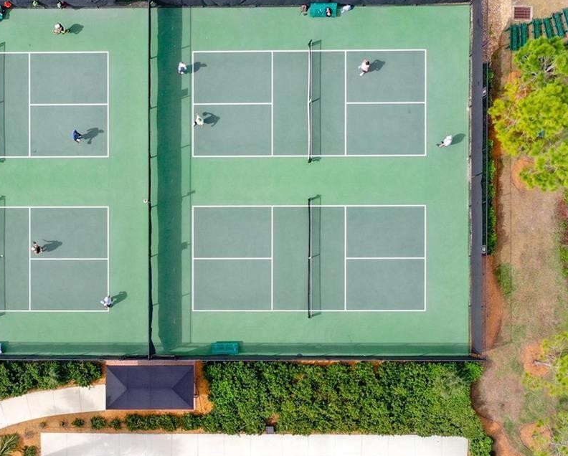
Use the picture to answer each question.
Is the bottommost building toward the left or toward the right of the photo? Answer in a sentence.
It is on the left.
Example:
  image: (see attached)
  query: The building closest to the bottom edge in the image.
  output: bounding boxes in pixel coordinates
[105,361,197,411]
